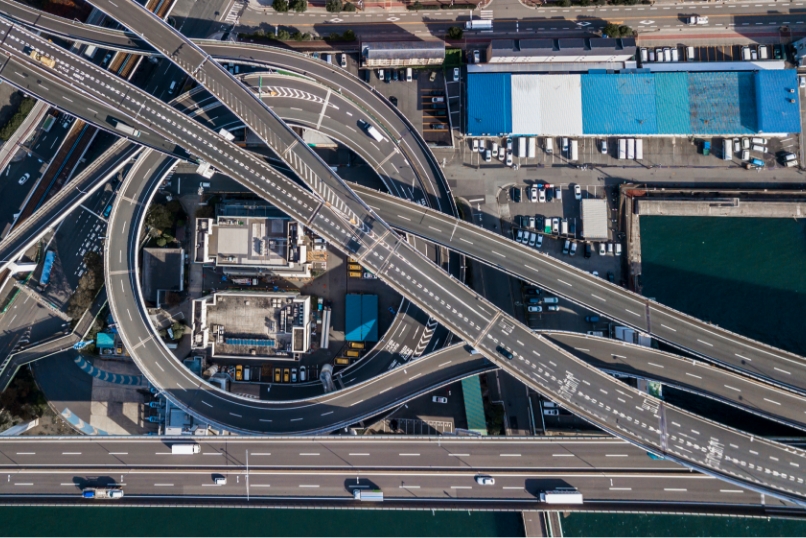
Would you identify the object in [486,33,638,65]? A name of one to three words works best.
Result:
building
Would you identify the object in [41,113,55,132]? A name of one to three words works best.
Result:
vehicle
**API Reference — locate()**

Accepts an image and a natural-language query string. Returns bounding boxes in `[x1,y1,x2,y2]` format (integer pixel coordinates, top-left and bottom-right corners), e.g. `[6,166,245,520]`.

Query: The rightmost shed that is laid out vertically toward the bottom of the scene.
[460,373,487,434]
